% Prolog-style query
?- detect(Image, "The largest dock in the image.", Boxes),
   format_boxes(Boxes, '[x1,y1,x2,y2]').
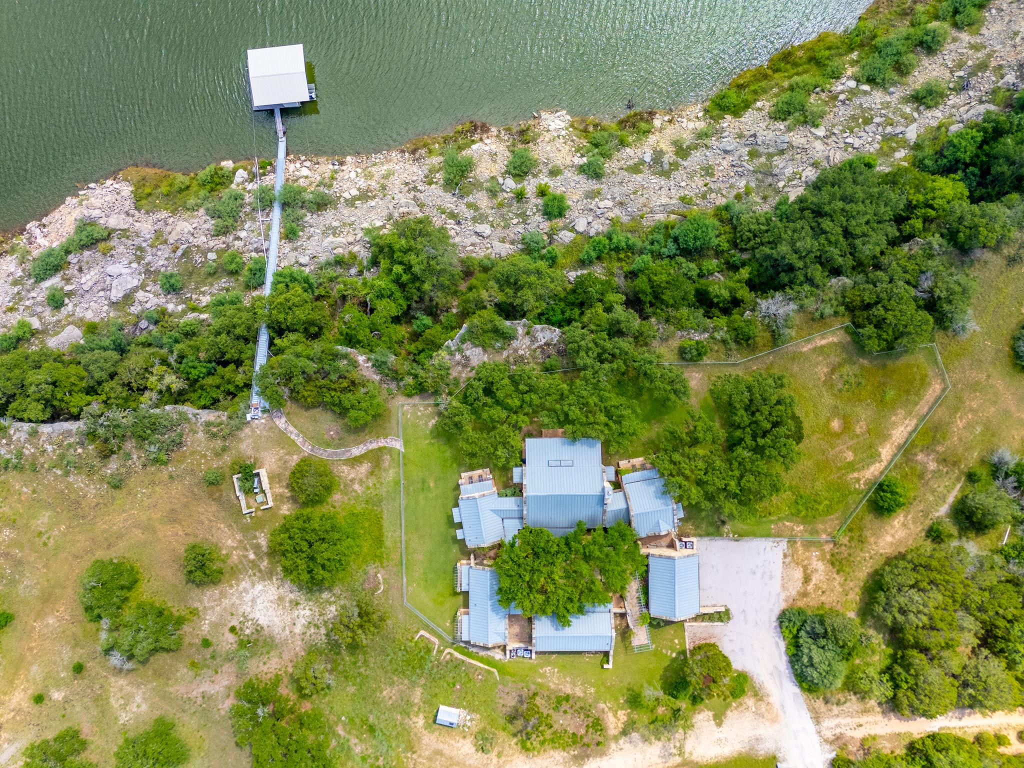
[245,44,310,111]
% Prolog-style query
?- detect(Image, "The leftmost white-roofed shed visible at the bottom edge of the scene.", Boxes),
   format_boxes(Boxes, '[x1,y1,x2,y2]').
[437,698,461,733]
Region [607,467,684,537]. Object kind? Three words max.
building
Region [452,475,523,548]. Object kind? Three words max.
building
